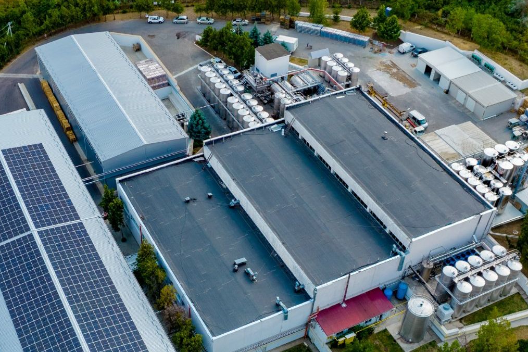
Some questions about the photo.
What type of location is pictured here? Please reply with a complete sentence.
It's an industrial area.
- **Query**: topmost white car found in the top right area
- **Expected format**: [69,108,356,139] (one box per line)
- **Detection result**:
[397,40,419,52]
